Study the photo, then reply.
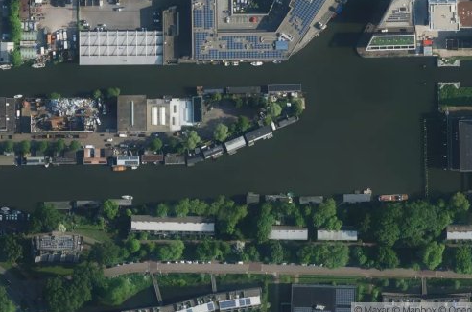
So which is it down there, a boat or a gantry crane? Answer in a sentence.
I can see a boat in this picture.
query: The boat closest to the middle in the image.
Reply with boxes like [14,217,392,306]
[224,136,246,155]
